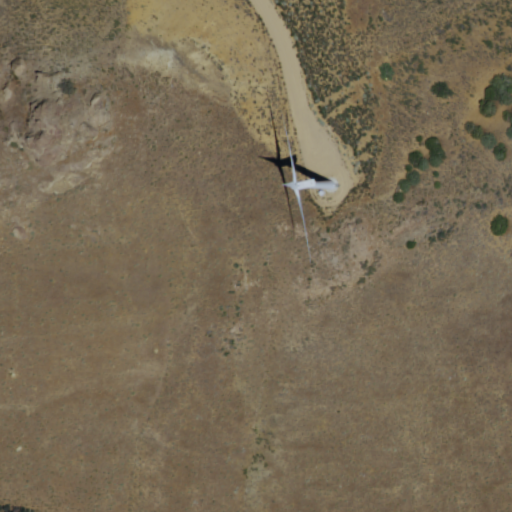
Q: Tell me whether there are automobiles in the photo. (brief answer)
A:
No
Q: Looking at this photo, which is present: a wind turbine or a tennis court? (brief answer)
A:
wind turbine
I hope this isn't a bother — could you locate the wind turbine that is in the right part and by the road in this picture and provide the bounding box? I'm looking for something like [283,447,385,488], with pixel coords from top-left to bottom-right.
[283,118,342,259]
